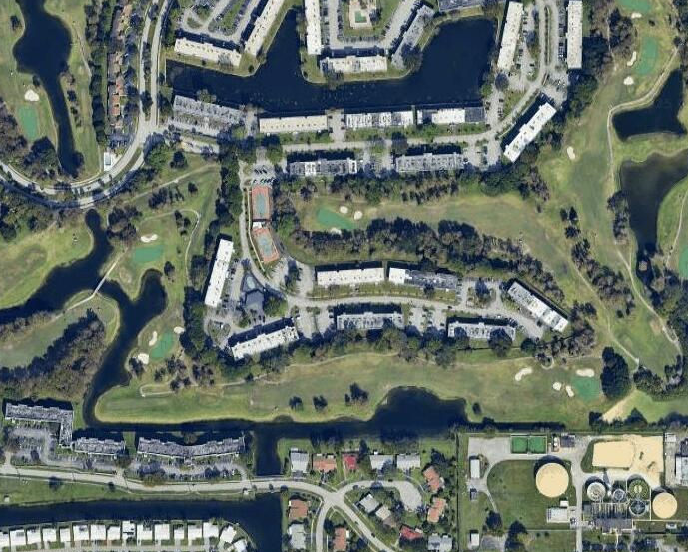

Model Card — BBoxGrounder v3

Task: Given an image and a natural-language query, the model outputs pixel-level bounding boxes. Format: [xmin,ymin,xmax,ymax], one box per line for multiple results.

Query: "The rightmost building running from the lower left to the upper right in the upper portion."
[504,102,559,162]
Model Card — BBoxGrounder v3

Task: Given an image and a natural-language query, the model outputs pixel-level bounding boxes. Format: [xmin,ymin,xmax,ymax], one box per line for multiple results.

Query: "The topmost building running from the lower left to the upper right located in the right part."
[391,4,436,66]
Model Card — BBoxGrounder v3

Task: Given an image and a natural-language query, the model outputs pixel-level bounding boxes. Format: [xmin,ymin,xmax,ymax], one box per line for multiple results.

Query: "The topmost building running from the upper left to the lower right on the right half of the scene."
[508,281,570,333]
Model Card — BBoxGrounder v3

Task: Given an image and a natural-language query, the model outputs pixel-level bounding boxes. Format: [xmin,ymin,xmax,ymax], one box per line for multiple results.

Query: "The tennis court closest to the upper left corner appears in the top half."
[252,186,269,219]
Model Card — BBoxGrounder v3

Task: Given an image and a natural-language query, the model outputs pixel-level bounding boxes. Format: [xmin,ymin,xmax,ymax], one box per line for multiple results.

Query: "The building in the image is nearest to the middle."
[316,266,386,287]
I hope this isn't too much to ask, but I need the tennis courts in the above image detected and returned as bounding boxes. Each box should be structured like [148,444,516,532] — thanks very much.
[253,229,279,262]
[252,186,269,219]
